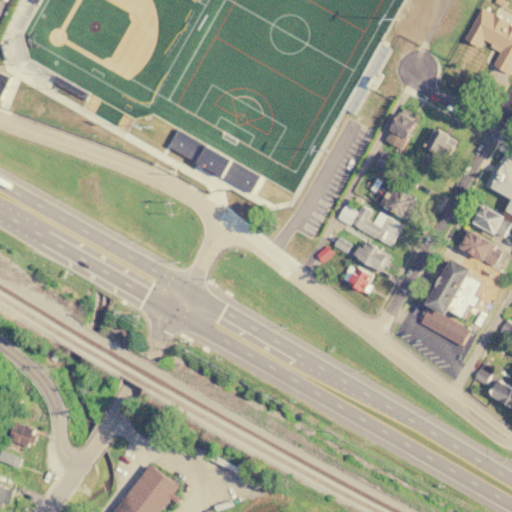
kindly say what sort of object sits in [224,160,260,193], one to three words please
building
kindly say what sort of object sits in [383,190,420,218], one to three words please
house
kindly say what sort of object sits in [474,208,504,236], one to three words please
house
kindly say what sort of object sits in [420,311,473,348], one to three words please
building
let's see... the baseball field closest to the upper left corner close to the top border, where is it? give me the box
[26,0,208,118]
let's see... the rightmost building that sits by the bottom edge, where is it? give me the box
[112,462,180,512]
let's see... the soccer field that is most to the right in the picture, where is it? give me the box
[132,0,404,194]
